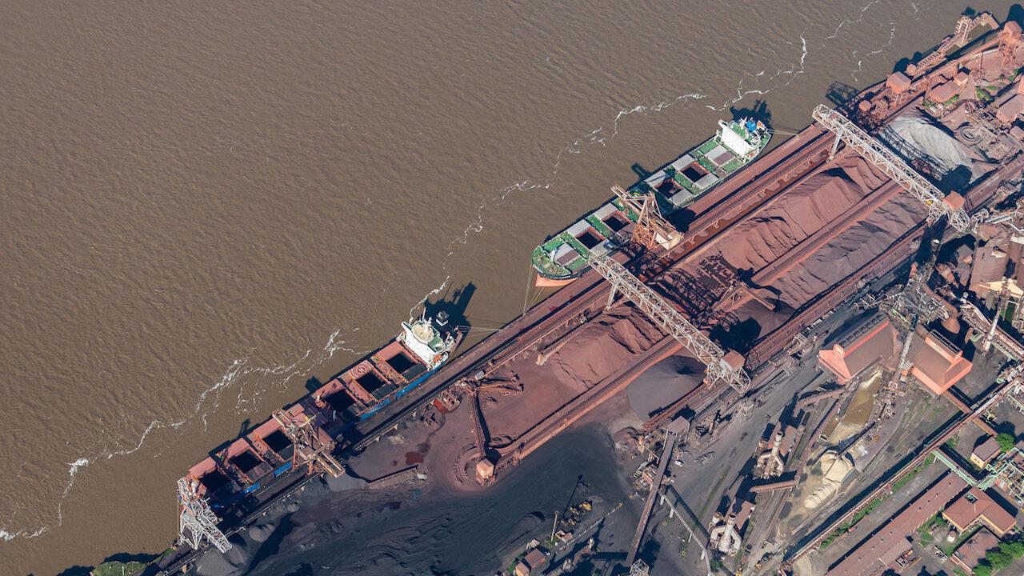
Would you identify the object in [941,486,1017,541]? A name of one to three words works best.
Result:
building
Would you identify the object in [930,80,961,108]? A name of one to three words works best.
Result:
shed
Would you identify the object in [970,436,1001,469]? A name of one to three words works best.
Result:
house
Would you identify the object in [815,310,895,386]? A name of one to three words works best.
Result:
building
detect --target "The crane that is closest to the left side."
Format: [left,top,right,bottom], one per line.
[165,475,232,555]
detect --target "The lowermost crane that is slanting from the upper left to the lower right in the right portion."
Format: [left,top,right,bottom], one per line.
[588,247,749,400]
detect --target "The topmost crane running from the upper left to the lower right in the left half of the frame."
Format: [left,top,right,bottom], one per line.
[271,407,349,479]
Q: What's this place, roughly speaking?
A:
port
